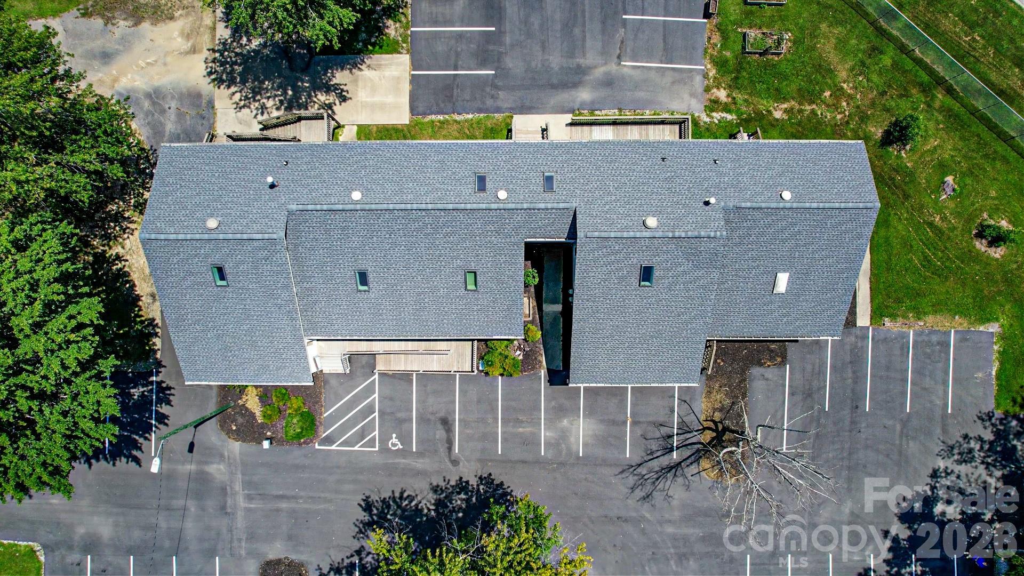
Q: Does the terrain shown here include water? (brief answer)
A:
No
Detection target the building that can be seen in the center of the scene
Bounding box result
[139,139,879,387]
